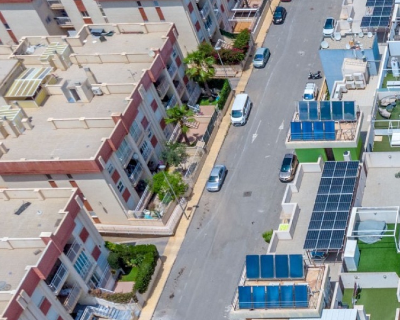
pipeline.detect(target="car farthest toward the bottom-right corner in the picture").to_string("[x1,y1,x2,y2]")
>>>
[277,151,298,180]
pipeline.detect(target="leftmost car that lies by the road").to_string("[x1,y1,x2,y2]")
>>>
[206,162,228,189]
